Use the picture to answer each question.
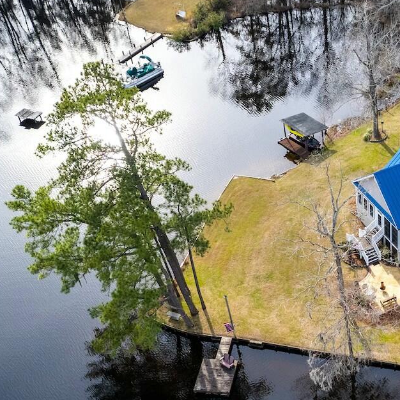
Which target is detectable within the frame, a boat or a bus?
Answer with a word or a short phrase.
boat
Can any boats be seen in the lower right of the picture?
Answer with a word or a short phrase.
No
